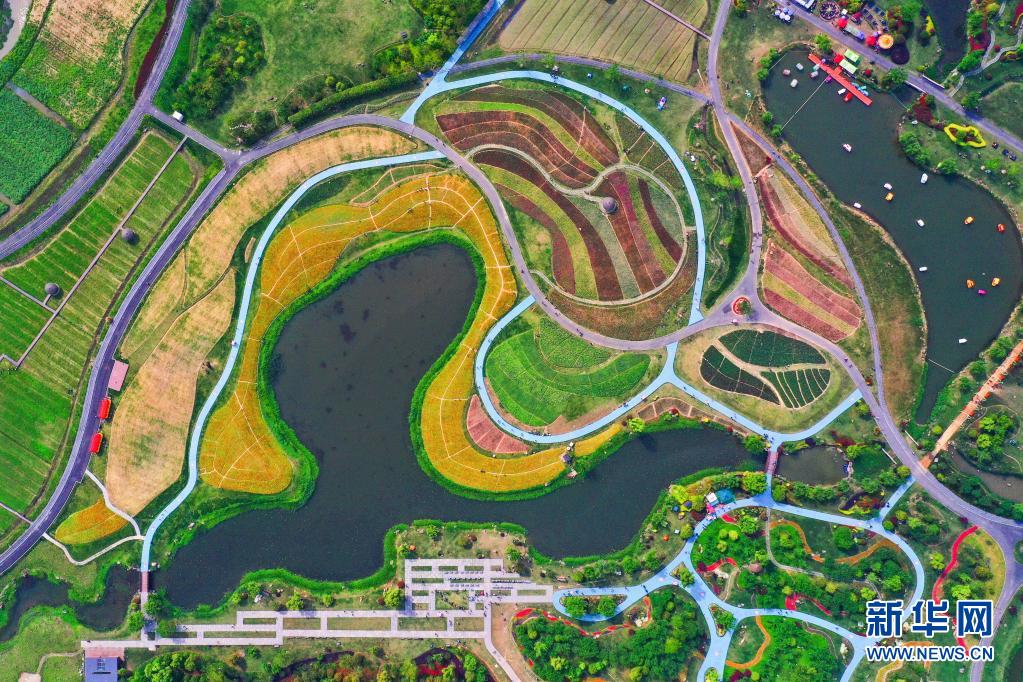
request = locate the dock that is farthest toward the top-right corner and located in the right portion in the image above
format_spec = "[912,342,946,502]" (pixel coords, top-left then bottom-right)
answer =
[807,54,872,105]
